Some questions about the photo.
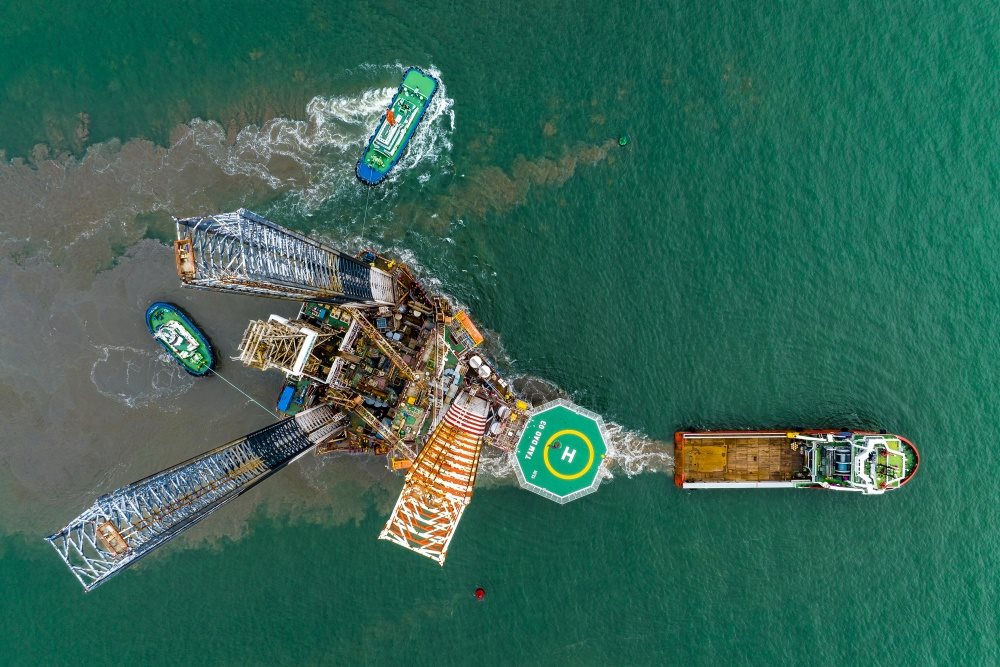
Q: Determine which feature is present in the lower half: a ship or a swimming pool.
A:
ship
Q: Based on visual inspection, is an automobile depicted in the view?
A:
No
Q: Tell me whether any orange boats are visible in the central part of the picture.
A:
Yes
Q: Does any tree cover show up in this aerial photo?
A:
No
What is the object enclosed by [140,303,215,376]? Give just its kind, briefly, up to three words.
boat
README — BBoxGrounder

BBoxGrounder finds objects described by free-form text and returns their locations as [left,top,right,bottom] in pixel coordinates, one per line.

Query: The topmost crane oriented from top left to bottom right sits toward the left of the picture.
[345,307,431,389]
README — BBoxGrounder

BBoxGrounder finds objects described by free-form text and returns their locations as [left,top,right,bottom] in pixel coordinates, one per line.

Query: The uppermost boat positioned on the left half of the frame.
[356,60,441,186]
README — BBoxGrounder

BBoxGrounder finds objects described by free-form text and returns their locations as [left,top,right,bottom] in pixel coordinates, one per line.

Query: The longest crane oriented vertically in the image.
[431,301,447,427]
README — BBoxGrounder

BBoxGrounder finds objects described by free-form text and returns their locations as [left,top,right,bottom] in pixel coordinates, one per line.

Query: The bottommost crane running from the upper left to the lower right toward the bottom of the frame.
[346,387,422,456]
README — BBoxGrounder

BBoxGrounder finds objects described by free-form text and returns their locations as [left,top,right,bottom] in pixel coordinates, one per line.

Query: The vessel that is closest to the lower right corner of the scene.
[677,430,920,494]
